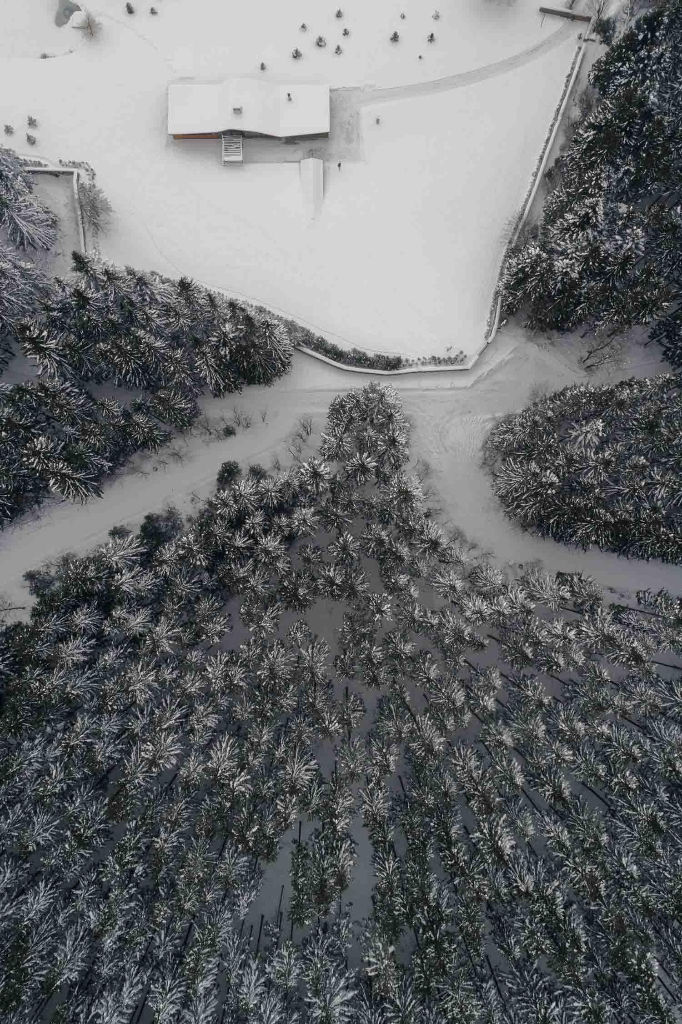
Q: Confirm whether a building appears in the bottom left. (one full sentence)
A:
No, looking in the bottom left, there is no building.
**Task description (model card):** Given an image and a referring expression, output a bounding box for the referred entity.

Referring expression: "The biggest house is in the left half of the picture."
[168,79,330,139]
